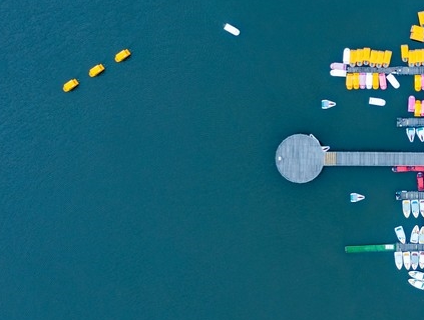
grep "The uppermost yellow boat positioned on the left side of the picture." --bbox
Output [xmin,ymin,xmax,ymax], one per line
[115,48,132,61]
